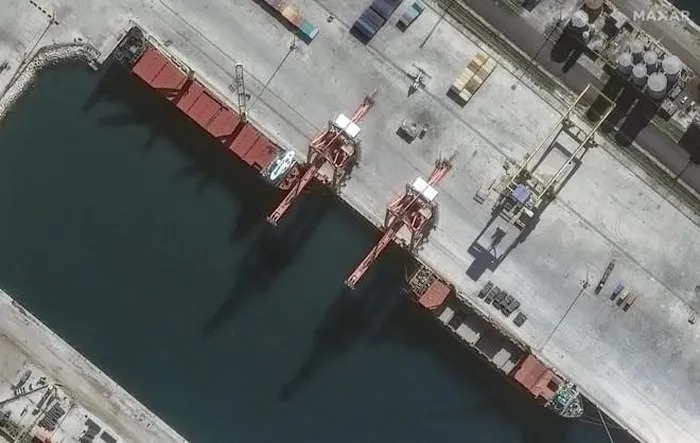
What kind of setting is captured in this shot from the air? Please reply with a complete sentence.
It's a port.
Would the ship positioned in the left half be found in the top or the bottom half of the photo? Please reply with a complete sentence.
The top half of the photo is where the ship positioned in the left half is.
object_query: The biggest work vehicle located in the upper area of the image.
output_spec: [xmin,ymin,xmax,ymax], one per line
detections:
[409,65,434,92]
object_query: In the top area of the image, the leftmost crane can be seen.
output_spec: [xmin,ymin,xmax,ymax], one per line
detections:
[264,96,380,228]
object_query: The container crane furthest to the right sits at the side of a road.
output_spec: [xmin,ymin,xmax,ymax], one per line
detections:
[487,85,617,230]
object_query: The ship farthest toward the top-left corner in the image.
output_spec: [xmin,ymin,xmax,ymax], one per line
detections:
[117,33,305,191]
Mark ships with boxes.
[117,33,305,191]
[403,267,582,418]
